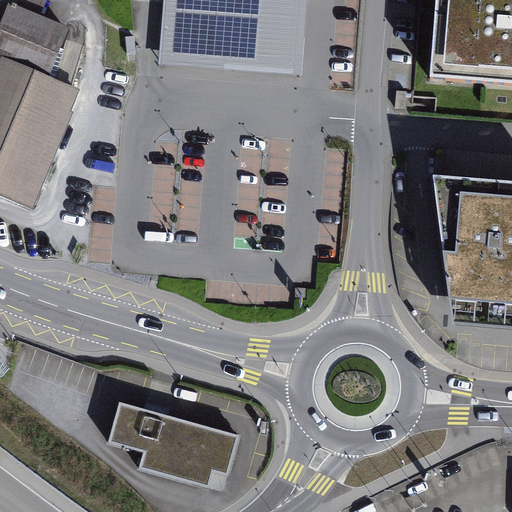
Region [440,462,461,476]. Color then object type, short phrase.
black car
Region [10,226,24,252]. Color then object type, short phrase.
black vehicle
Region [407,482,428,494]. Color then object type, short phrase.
white vehicle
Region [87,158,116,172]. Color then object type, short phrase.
blue vehicle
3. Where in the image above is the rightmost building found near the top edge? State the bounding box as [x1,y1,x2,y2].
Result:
[428,0,512,86]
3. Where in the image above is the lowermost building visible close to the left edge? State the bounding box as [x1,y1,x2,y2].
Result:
[0,56,80,210]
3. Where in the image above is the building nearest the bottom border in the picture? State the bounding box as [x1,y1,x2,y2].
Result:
[108,402,240,492]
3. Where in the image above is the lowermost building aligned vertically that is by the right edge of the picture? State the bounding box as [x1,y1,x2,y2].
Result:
[432,174,512,330]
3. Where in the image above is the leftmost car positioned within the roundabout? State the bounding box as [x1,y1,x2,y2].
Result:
[308,408,327,431]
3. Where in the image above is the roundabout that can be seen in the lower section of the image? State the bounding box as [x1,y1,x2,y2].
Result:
[286,316,427,456]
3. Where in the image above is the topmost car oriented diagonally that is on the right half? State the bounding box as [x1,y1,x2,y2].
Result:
[390,220,412,240]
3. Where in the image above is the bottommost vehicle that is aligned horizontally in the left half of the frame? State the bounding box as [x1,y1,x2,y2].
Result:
[173,388,198,400]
